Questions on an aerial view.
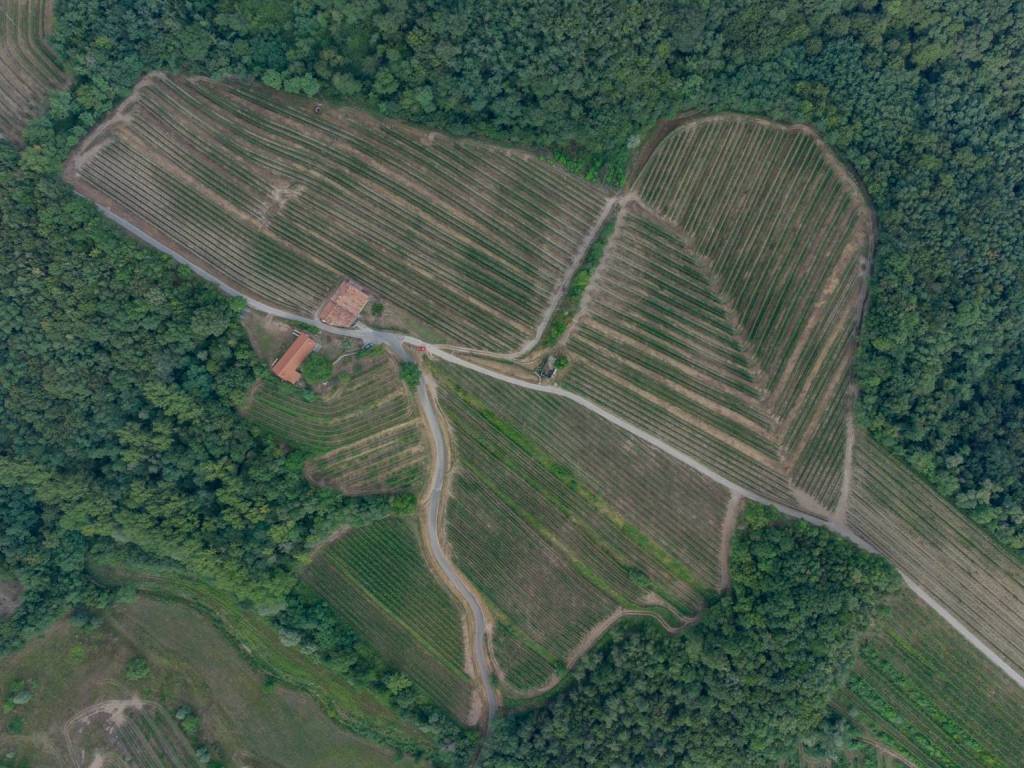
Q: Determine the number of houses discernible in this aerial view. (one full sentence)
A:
The photo contains 2 houses.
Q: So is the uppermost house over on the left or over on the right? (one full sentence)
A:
You can find the uppermost house on the left side of the picture.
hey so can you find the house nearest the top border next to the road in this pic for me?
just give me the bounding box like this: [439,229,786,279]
[324,278,368,329]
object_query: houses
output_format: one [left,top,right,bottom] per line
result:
[273,332,317,386]
[324,278,368,329]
